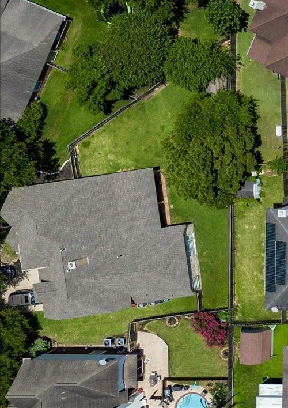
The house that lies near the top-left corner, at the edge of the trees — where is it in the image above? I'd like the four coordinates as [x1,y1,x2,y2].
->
[0,0,74,123]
